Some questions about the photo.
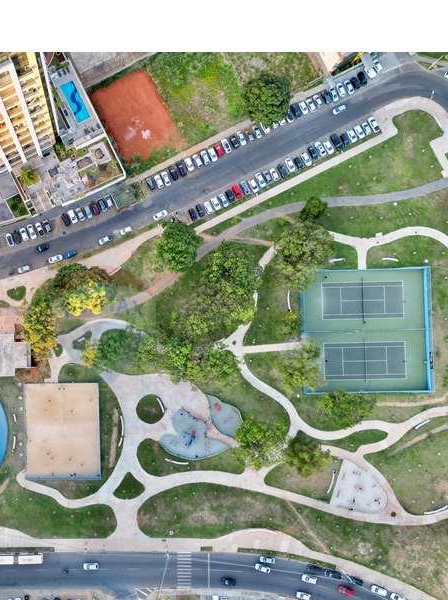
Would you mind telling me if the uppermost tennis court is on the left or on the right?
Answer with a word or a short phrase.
right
